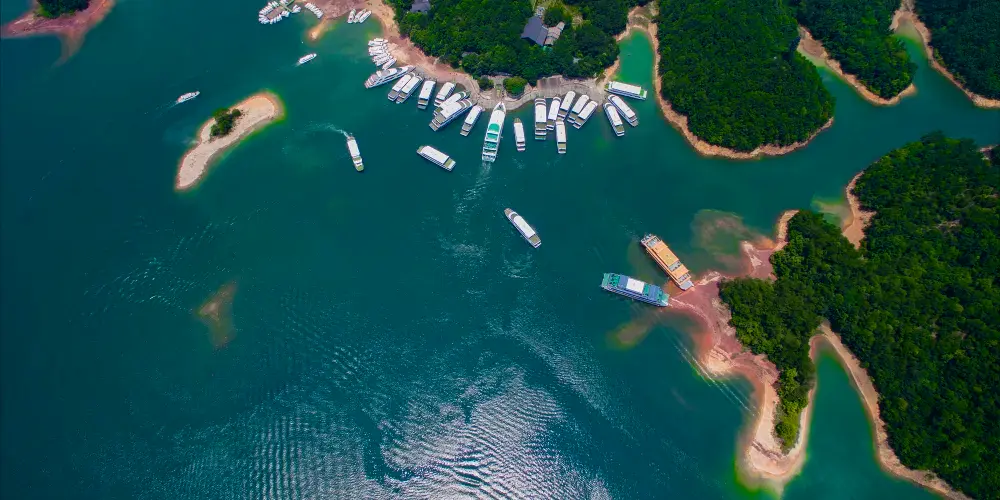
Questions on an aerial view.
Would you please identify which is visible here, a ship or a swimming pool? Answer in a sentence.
I can see a ship in this picture.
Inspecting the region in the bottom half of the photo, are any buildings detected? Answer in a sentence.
No, I see no building in the bottom half of the photo.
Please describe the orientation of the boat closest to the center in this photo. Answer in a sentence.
The boat closest to the center is oriented diagonally.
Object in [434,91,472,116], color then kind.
white boat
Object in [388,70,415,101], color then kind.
white boat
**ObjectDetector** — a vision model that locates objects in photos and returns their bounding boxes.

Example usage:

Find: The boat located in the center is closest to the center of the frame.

[505,208,542,248]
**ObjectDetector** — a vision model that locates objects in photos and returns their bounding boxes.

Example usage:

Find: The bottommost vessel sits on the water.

[601,271,669,309]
